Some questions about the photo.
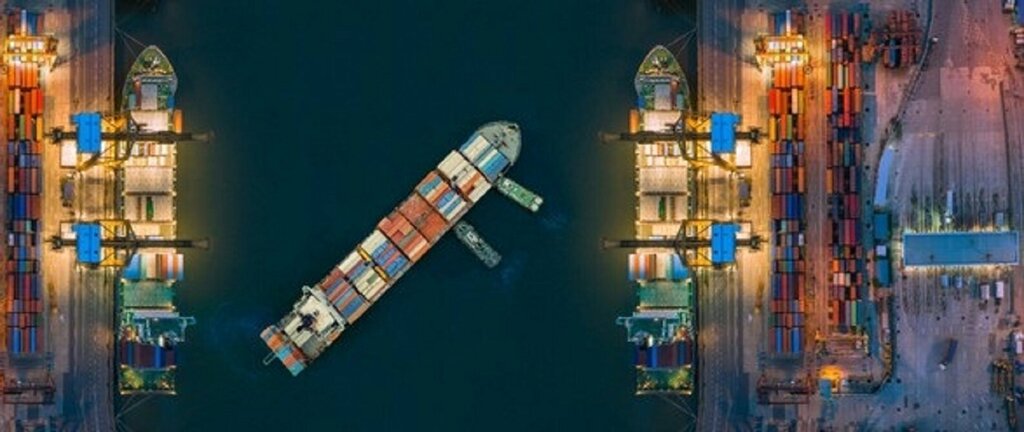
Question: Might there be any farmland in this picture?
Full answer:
No, the picture contains no farmland.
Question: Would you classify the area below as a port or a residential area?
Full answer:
What you see here is a port.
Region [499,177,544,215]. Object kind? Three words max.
boat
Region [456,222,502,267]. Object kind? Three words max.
boat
